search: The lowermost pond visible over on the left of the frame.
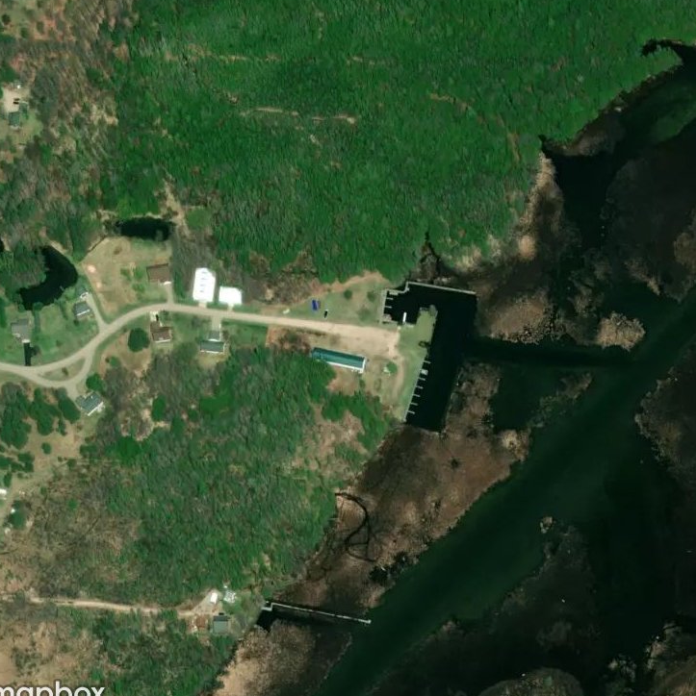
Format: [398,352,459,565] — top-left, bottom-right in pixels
[20,246,78,310]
